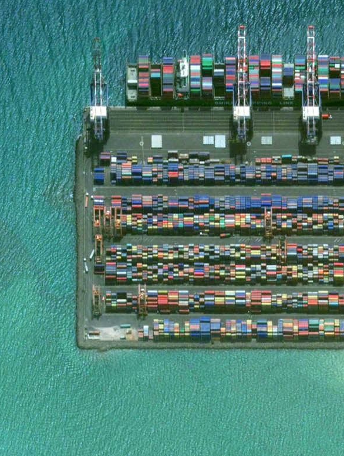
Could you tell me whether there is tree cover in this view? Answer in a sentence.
No, there is no tree cover in the image.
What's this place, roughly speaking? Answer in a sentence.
This image shows a port.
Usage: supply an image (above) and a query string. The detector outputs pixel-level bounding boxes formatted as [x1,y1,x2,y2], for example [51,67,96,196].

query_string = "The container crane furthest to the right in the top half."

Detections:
[300,26,321,143]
